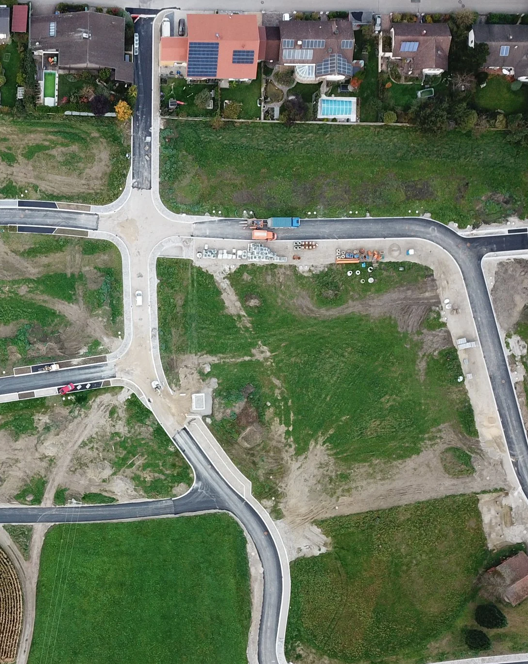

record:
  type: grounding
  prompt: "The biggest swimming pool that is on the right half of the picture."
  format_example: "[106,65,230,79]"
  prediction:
[320,99,352,115]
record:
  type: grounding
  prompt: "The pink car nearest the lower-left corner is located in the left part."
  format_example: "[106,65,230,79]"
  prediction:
[59,382,74,396]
